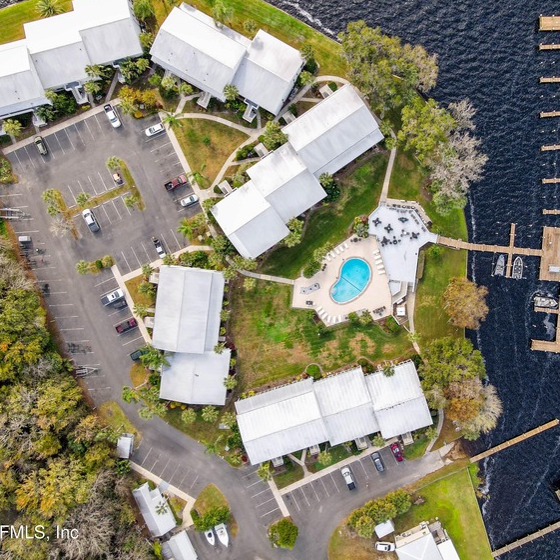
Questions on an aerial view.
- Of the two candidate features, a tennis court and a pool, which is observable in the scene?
pool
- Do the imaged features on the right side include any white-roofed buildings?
Yes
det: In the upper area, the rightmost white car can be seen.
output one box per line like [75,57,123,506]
[180,194,199,207]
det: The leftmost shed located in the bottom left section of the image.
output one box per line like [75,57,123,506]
[116,431,136,458]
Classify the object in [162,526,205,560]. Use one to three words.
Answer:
house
